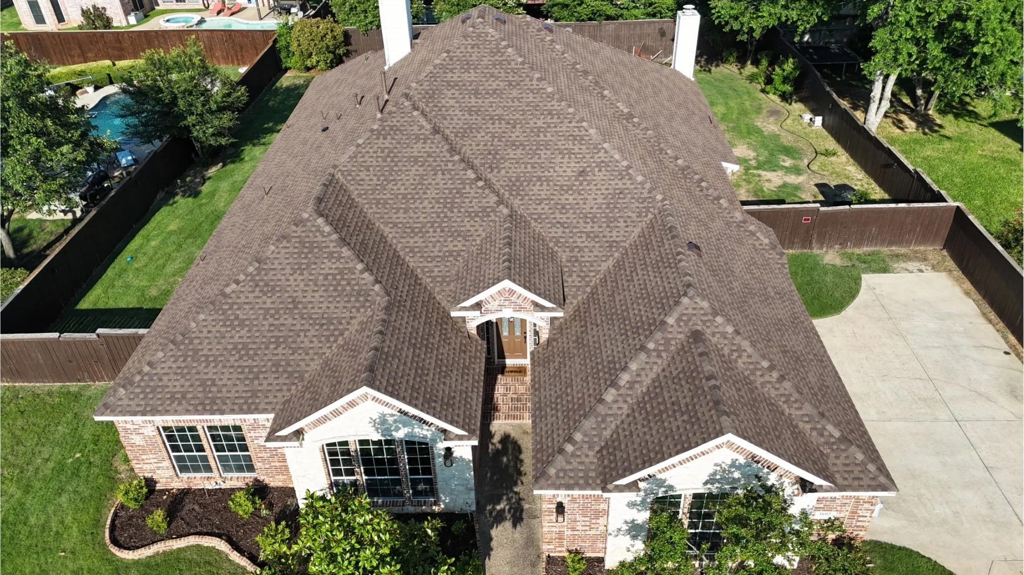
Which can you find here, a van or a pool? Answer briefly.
pool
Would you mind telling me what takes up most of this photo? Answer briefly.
buildings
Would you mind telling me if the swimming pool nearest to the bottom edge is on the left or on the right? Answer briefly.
left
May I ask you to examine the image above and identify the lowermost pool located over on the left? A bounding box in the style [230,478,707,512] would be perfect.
[67,85,184,150]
